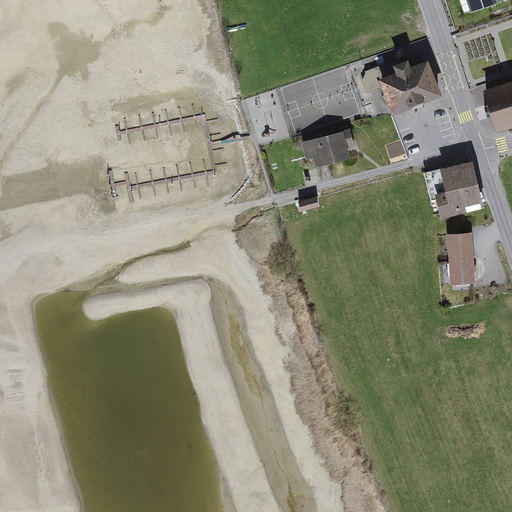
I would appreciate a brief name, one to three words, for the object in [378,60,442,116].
building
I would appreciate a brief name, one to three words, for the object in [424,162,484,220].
building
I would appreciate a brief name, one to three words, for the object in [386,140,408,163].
shed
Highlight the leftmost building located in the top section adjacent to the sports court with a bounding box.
[302,129,353,166]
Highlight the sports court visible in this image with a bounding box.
[276,66,360,137]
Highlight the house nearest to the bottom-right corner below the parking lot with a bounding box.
[446,233,477,285]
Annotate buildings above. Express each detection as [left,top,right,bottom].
[482,82,512,134]
[298,194,320,214]
[302,129,353,166]
[446,233,477,285]
[460,0,496,14]
[386,140,408,163]
[378,60,442,116]
[424,162,484,220]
